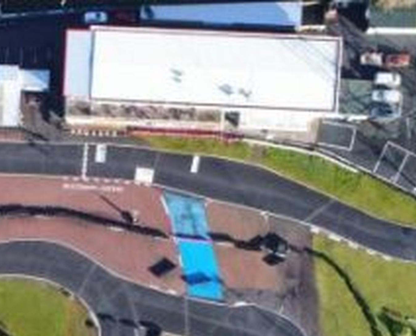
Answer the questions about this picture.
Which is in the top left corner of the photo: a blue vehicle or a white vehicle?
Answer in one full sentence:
The feature located in the top left corner of the photo is a blue vehicle.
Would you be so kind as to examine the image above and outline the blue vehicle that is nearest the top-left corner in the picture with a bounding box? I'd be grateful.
[80,5,113,23]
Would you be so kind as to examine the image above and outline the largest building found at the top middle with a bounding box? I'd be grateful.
[88,24,344,126]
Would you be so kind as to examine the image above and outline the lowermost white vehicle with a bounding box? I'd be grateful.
[373,86,405,102]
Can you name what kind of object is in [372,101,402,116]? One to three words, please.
car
